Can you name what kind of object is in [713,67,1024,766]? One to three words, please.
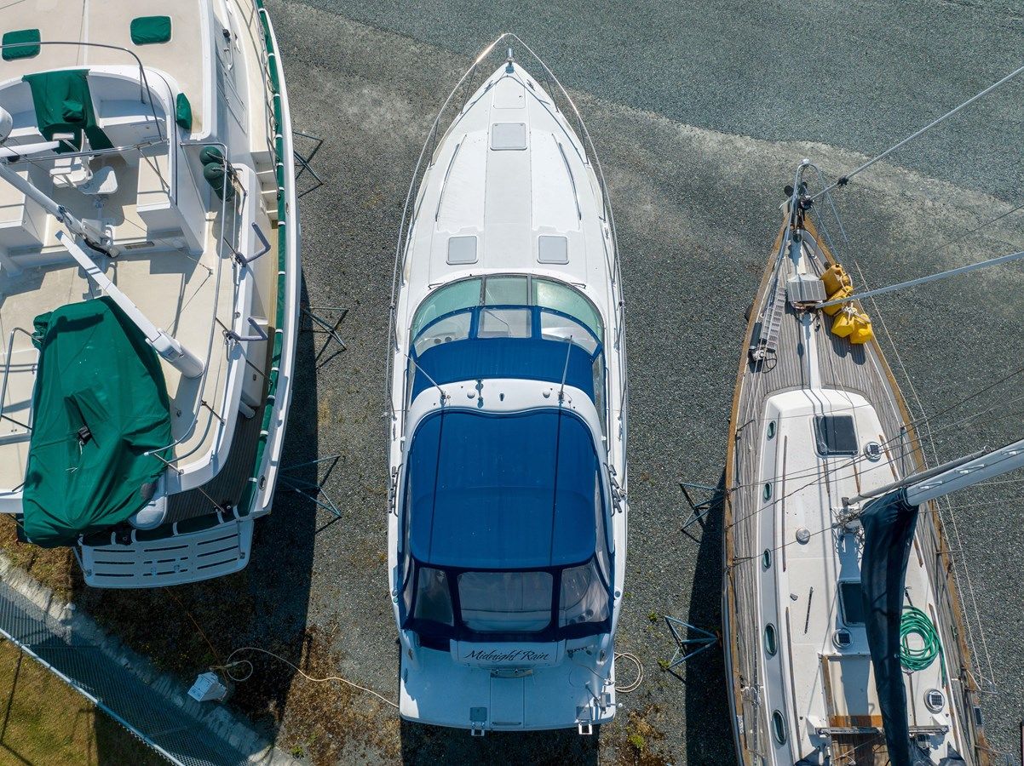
boat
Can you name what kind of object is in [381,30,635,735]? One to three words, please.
boat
